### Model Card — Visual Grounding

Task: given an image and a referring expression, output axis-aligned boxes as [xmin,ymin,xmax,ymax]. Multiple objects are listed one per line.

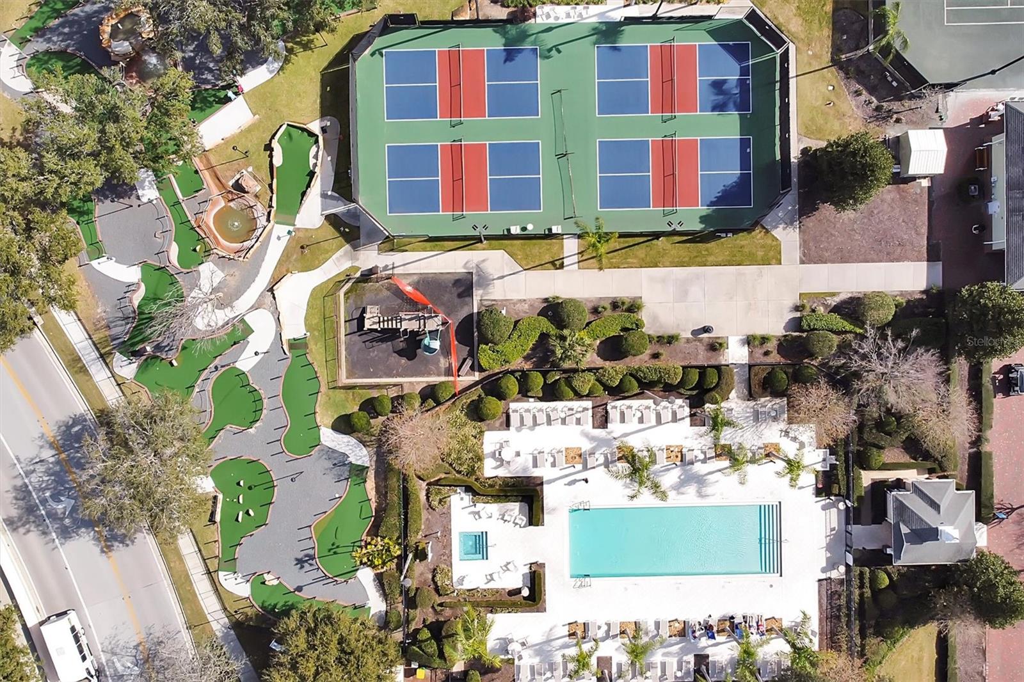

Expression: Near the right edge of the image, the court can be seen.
[885,0,1024,91]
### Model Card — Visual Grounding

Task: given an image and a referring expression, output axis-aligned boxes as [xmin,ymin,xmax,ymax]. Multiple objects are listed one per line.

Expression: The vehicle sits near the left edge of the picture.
[42,607,113,682]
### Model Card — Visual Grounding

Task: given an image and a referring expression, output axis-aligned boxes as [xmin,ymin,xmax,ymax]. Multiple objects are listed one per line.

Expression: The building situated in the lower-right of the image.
[887,479,978,565]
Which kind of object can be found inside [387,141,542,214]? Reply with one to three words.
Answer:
sports court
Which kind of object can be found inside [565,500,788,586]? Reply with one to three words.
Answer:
swimming pool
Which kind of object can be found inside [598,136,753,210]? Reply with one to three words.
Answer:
sports court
